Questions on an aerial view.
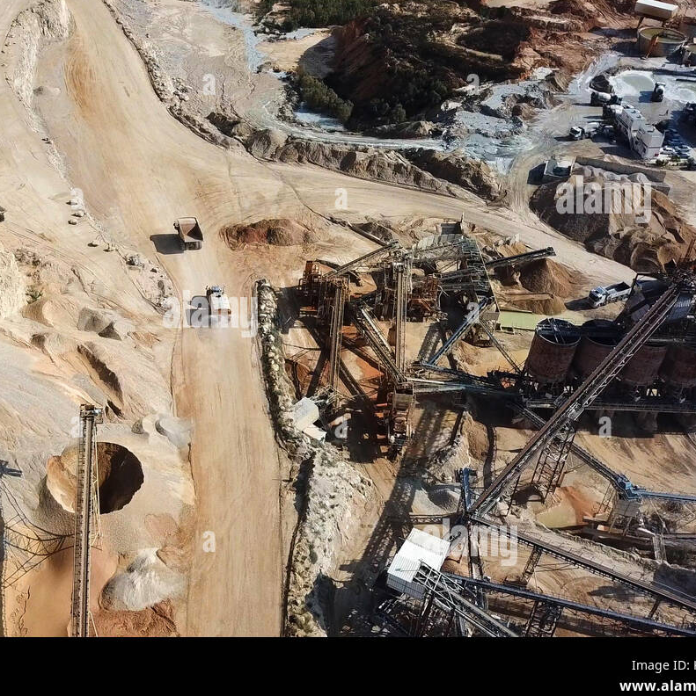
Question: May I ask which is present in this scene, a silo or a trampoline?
silo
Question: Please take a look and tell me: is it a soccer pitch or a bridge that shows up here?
bridge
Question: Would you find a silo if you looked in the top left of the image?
No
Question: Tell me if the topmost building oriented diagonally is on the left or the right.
right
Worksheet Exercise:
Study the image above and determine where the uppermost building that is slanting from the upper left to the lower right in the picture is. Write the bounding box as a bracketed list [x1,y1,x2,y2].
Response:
[600,114,676,172]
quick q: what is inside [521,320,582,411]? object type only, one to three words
silo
